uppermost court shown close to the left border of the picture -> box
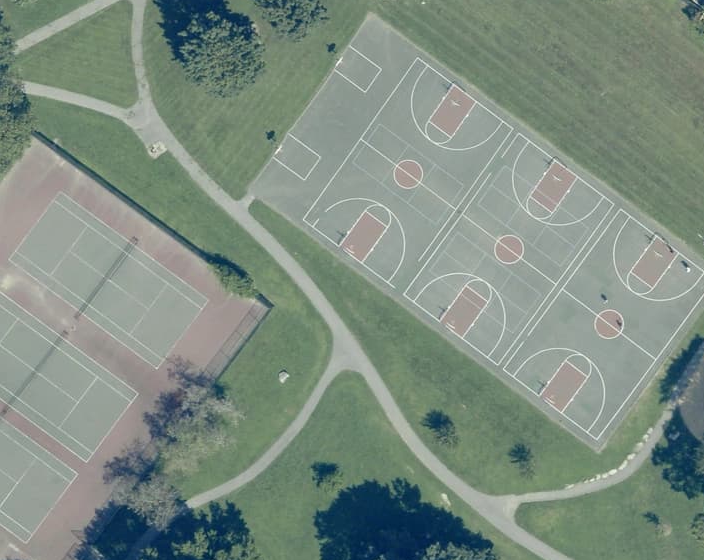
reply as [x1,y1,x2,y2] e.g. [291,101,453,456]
[9,192,208,368]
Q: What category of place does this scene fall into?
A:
sports ground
